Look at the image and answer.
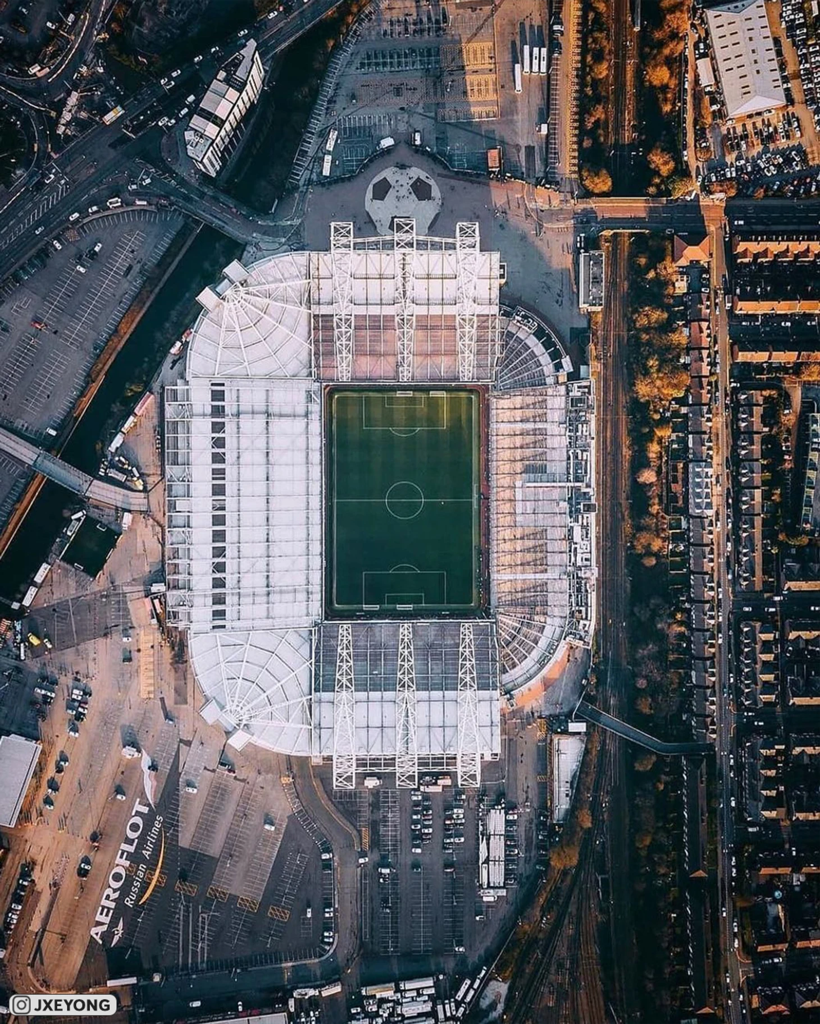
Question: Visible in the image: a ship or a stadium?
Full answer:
Visible in the photo is a stadium.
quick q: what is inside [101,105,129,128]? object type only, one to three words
bus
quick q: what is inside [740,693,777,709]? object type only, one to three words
house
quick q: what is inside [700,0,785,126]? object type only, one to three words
building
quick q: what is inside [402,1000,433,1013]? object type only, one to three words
vehicle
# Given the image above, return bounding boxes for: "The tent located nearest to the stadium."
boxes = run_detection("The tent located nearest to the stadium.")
[486,807,505,834]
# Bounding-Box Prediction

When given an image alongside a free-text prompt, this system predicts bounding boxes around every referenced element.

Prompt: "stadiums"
[165,218,599,789]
